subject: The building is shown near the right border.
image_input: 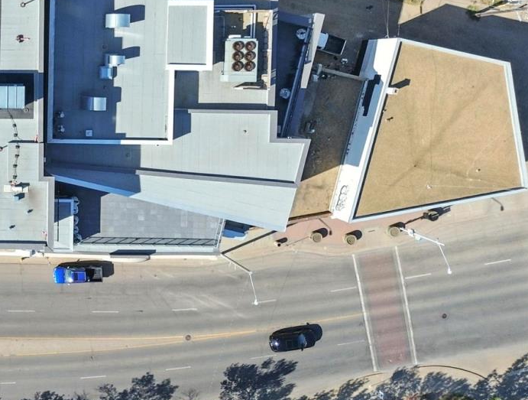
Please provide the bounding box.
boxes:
[327,38,528,223]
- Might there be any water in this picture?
No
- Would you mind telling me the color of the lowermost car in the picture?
black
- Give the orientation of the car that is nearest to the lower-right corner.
from side to side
